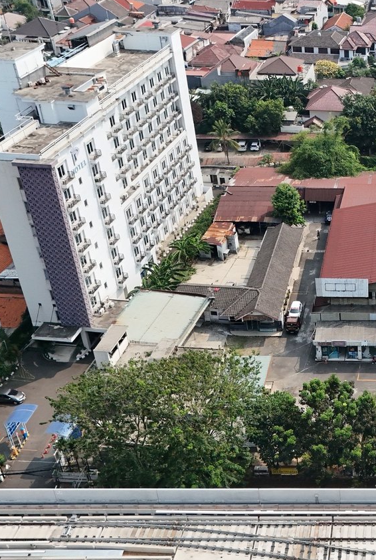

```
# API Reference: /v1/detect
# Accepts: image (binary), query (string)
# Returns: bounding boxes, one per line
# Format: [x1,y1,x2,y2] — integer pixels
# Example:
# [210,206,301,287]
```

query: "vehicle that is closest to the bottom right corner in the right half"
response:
[287,313,302,333]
